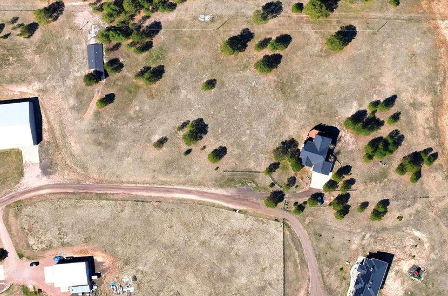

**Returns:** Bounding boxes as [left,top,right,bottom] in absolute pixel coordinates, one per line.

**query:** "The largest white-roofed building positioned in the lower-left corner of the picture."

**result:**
[53,260,91,287]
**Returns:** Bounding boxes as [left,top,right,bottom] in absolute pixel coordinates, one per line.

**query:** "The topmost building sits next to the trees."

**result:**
[87,44,106,79]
